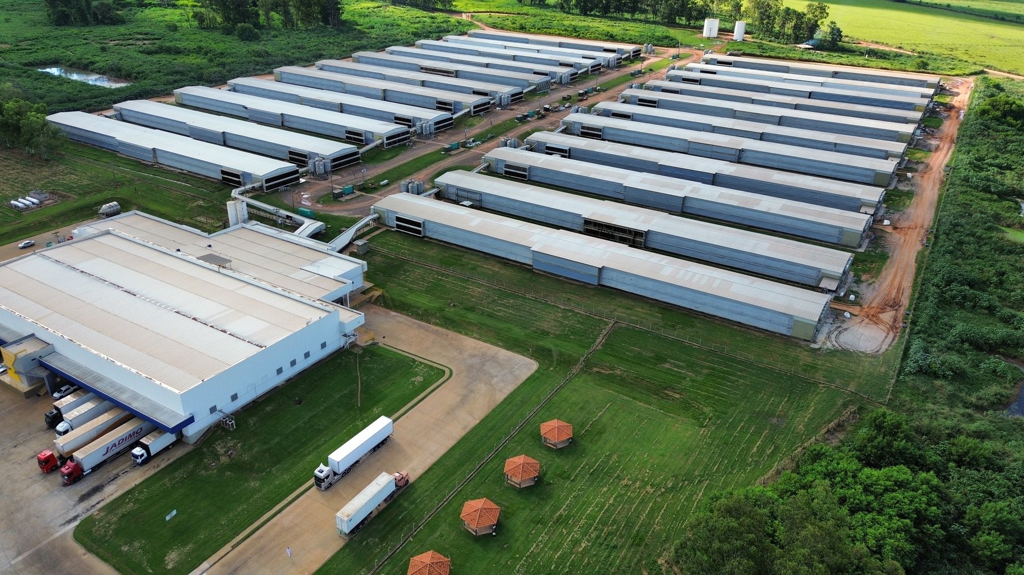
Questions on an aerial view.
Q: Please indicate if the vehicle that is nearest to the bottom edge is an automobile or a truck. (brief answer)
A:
truck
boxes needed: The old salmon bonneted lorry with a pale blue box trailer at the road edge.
[335,464,413,534]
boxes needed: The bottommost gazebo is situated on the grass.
[407,549,450,575]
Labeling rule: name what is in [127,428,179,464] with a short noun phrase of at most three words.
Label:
truck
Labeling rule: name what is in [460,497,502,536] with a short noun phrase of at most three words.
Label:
gazebo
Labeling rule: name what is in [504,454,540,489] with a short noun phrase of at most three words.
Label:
gazebo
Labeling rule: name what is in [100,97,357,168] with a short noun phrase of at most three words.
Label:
barn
